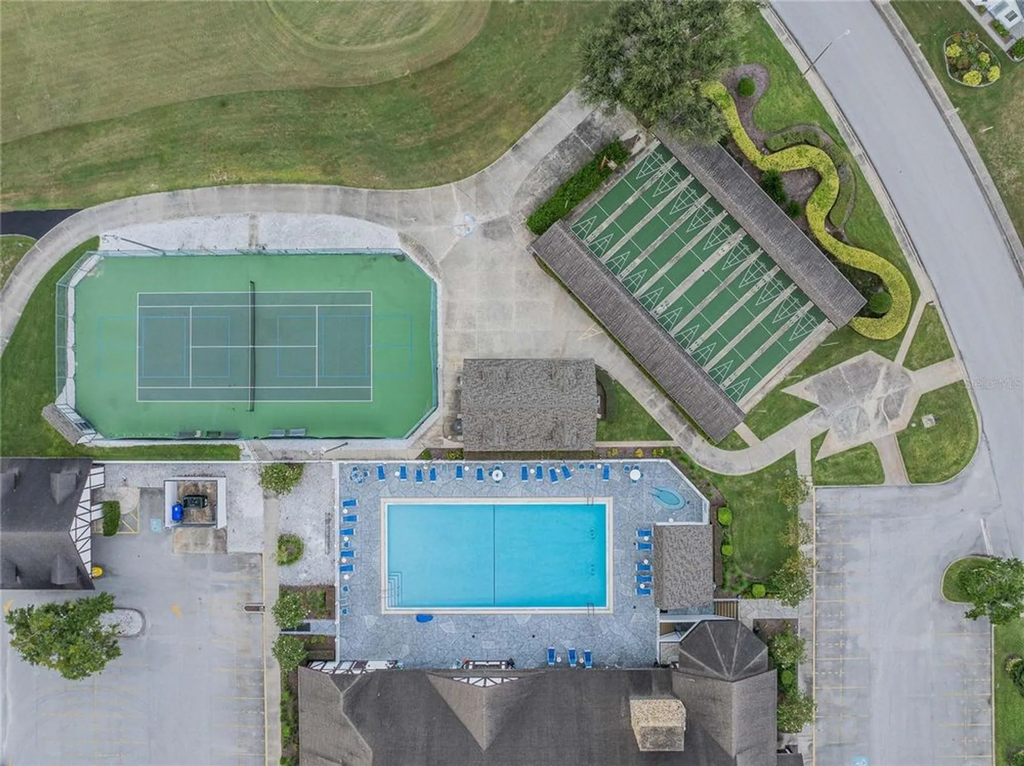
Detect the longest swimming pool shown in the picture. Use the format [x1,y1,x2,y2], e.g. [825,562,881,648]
[379,497,613,615]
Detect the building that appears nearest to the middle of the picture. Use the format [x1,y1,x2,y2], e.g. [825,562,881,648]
[461,359,597,451]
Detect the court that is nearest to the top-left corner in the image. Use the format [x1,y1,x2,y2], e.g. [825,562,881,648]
[74,255,433,439]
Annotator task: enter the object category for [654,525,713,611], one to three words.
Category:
building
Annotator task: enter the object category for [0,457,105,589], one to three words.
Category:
building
